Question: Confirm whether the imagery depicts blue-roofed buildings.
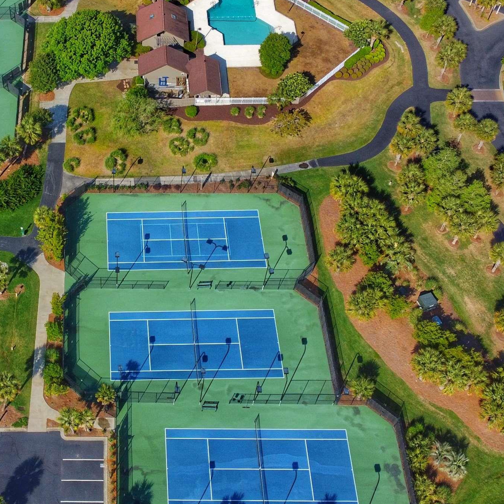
No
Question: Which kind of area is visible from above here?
sports ground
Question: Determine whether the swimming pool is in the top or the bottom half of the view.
top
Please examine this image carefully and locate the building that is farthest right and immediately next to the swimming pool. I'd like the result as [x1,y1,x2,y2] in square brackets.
[189,53,224,104]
